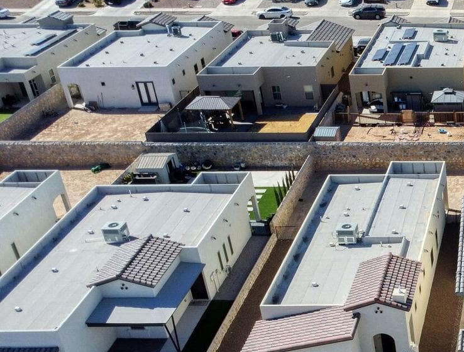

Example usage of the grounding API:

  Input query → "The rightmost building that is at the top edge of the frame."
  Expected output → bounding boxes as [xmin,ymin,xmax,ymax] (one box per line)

[349,12,464,114]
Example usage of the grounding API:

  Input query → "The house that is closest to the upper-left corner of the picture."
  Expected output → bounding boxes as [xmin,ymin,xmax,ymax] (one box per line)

[0,4,121,106]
